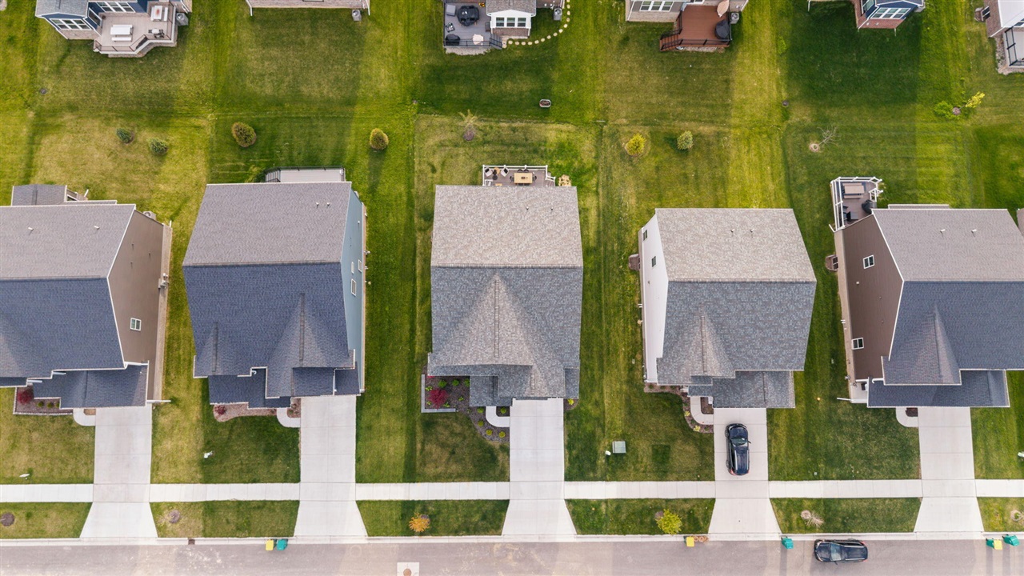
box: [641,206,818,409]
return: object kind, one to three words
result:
house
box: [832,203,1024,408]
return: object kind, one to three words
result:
house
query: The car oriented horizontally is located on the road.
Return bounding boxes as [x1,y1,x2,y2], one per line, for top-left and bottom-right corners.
[812,540,872,568]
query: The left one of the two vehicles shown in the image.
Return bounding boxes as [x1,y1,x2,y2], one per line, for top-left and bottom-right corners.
[724,421,752,478]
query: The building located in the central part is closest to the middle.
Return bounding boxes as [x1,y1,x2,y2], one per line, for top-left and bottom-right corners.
[427,184,584,407]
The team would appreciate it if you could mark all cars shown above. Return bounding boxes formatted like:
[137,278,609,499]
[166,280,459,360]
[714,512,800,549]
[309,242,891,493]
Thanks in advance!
[812,540,872,568]
[724,421,752,478]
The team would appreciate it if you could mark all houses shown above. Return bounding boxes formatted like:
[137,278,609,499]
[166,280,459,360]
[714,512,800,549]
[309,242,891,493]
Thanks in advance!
[984,0,1024,35]
[427,184,584,407]
[803,0,924,36]
[0,180,175,409]
[179,182,368,409]
[641,206,818,409]
[35,0,189,40]
[443,0,564,38]
[626,0,753,22]
[832,203,1024,408]
[247,0,368,16]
